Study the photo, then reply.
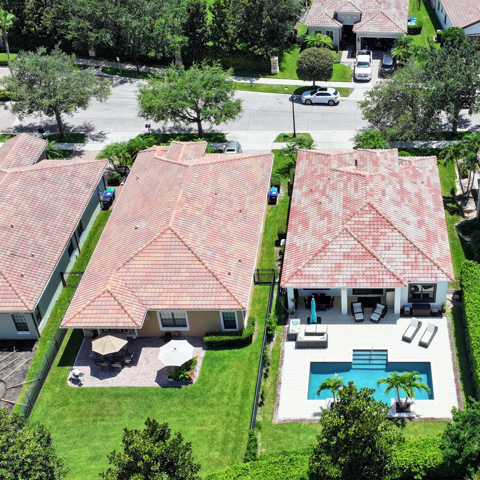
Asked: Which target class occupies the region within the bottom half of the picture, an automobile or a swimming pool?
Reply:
swimming pool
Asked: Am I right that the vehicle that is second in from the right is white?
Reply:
Yes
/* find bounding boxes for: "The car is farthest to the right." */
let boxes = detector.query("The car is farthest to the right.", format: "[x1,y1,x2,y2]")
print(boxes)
[379,53,397,77]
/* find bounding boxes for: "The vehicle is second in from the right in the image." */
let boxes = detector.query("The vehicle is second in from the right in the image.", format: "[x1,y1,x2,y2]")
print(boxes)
[354,54,374,83]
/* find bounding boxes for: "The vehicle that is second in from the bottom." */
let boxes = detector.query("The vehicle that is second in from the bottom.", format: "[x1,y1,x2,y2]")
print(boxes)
[302,89,341,108]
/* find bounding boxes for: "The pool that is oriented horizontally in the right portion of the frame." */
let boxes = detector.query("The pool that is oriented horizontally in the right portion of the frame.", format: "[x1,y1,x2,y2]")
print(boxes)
[308,350,434,400]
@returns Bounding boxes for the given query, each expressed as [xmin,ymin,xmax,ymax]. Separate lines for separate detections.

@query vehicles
[222,137,241,153]
[354,54,374,83]
[379,53,397,77]
[302,89,341,108]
